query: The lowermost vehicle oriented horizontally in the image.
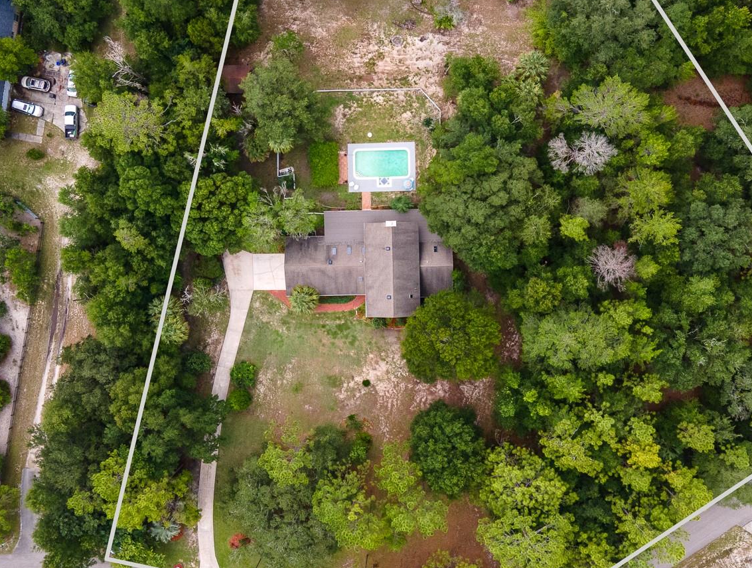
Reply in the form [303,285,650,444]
[11,100,45,117]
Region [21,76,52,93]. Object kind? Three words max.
car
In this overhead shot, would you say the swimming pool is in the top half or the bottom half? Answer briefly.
top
